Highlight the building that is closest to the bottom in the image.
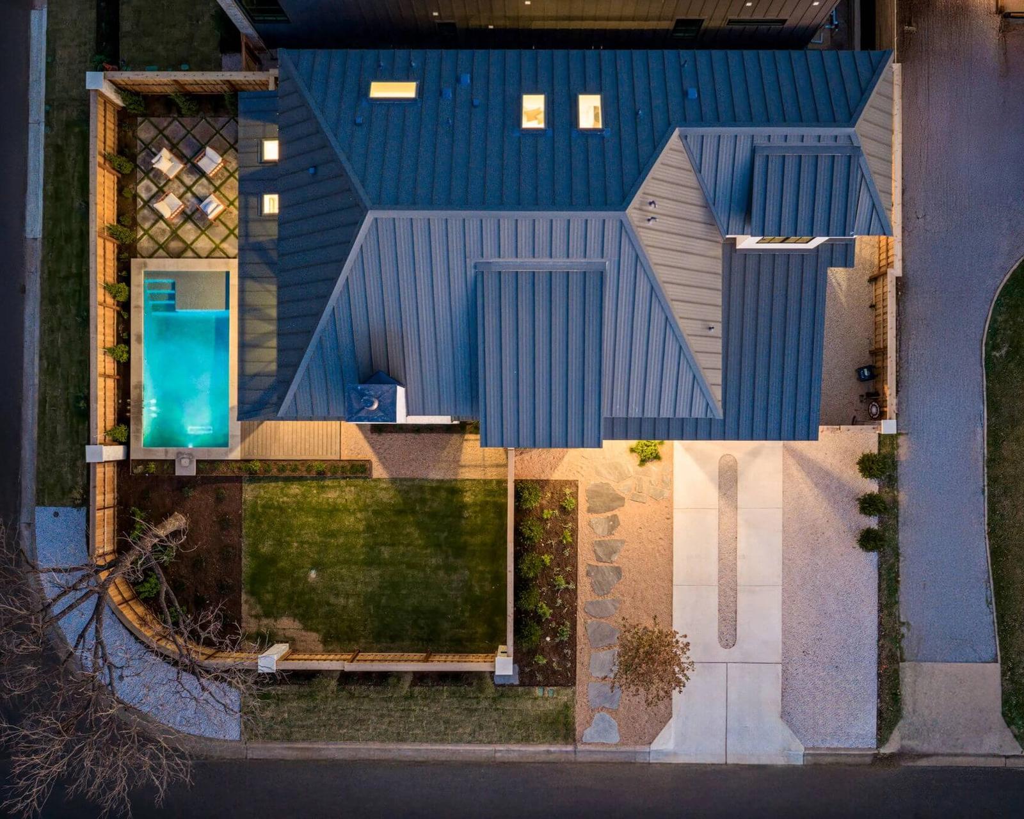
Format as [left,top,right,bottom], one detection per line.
[237,47,895,448]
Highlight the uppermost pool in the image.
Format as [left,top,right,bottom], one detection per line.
[131,258,239,459]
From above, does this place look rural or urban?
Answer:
urban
